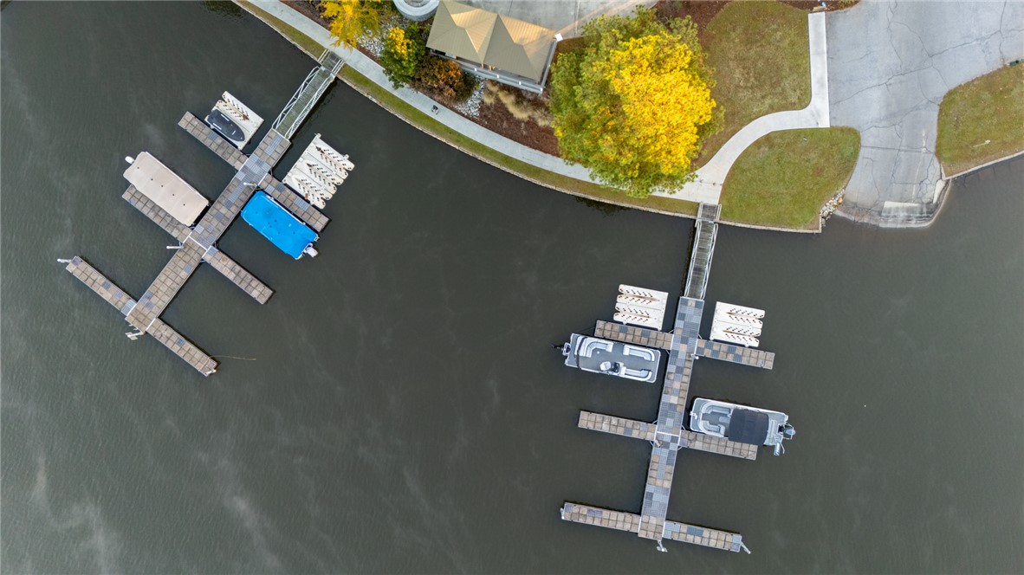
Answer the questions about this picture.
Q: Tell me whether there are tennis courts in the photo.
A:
No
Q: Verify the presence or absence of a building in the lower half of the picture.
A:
No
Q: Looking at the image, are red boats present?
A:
No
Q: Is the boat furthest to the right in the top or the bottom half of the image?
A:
bottom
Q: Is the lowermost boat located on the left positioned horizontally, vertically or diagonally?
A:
diagonally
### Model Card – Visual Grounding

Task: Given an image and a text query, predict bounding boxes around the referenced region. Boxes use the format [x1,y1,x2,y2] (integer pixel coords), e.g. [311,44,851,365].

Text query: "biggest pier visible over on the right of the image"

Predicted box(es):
[563,296,776,551]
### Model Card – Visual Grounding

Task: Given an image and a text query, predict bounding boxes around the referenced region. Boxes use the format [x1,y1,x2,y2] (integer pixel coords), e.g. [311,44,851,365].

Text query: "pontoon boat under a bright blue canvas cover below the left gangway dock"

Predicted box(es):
[243,193,320,262]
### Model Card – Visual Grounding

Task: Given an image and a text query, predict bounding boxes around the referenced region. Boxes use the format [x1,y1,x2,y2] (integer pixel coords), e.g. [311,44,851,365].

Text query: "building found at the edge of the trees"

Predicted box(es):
[428,1,556,90]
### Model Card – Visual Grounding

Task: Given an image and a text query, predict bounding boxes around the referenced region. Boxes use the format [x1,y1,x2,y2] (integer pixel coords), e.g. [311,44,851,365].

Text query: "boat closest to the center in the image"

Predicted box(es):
[560,334,661,383]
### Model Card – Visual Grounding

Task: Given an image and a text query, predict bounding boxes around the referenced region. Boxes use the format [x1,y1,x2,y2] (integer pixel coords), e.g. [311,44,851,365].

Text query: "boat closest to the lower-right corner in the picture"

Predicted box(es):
[690,399,795,453]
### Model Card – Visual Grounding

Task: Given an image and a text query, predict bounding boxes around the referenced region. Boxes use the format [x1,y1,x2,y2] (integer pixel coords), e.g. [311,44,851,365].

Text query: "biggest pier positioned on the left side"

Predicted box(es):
[66,110,331,377]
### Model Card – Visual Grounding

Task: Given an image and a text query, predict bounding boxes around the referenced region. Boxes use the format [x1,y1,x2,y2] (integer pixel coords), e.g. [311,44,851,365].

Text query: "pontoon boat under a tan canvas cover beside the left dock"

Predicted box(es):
[127,153,212,226]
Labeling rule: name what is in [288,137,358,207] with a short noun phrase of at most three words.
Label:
pier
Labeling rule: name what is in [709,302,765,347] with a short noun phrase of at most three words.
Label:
pier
